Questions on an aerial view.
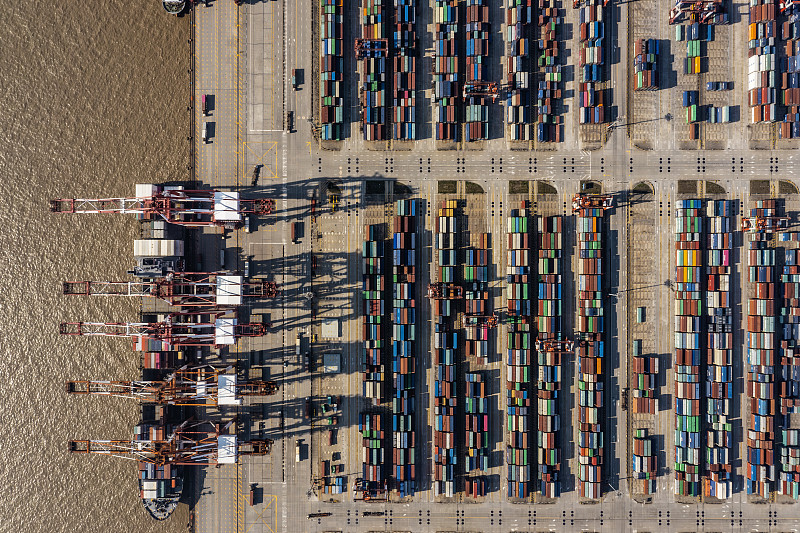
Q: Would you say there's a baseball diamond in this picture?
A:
No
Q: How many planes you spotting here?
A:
0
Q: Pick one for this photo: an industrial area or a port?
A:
port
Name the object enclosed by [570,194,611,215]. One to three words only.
crane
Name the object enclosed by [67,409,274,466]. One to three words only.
container crane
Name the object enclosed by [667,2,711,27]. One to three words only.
crane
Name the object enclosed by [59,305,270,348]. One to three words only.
container crane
